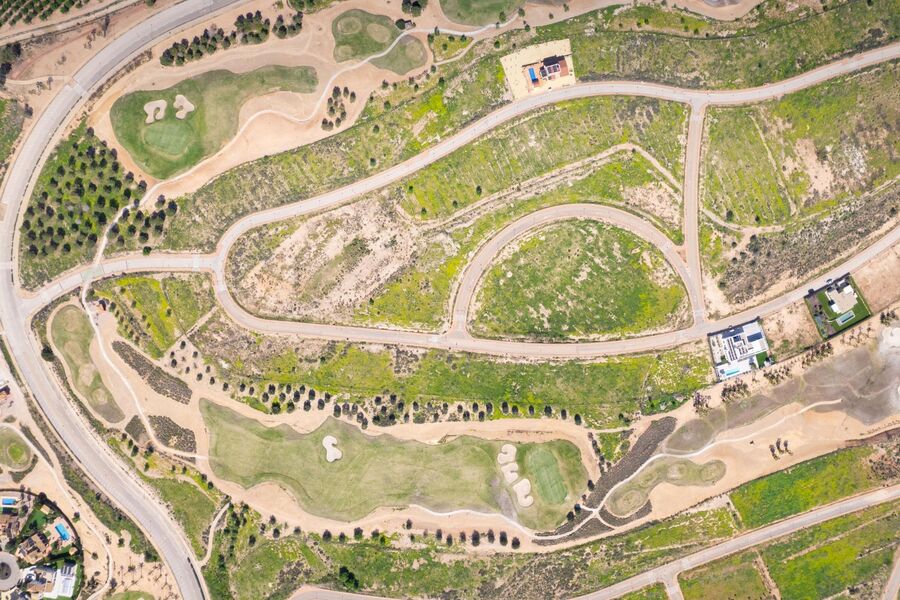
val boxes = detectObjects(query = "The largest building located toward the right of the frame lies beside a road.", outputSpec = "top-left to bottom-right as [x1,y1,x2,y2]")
[722,328,768,362]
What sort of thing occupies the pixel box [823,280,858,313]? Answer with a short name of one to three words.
house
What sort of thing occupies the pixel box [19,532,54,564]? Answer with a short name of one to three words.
house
